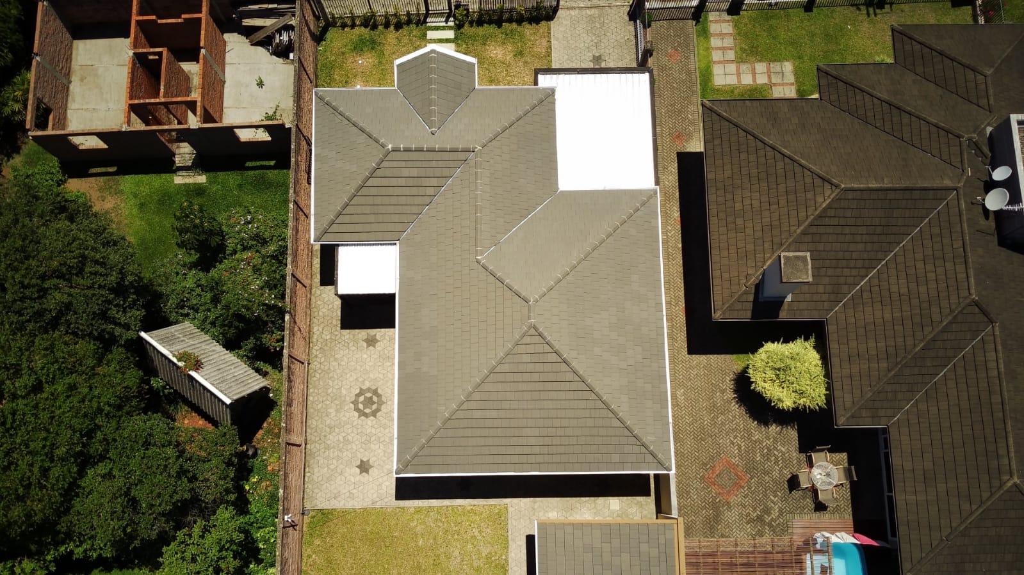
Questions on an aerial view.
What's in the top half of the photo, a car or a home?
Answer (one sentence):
What appears in the top half of the photo is a home.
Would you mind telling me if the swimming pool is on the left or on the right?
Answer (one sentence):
It is on the right.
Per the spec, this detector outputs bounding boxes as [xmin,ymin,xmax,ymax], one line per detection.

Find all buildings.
[697,21,1024,575]
[534,513,690,575]
[22,0,296,176]
[306,40,675,478]
[138,322,273,427]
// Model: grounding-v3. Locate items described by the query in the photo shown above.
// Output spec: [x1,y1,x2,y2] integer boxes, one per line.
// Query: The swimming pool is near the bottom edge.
[826,544,869,575]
